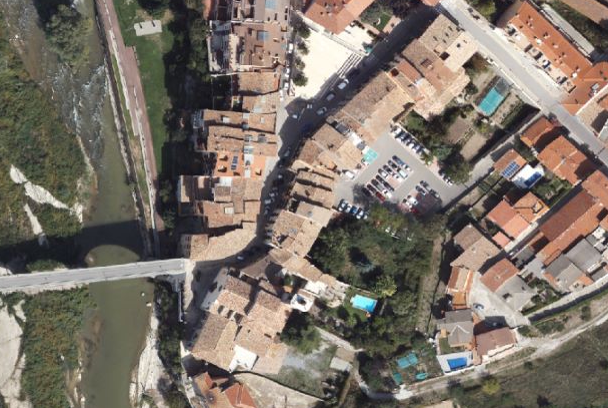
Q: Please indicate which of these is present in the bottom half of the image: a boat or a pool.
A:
pool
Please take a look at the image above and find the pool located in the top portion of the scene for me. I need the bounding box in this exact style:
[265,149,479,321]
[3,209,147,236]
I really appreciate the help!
[478,82,509,116]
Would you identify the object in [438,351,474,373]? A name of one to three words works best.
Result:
swimming pool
